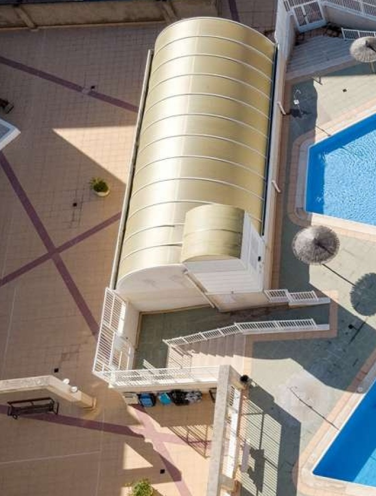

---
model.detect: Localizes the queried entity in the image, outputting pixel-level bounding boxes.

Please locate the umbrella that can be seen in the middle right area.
[296,228,345,270]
